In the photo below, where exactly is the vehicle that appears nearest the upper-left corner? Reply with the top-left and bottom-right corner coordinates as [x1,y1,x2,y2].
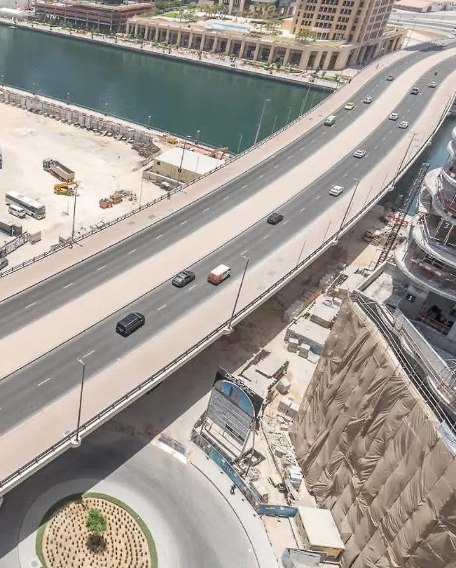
[43,158,73,178]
